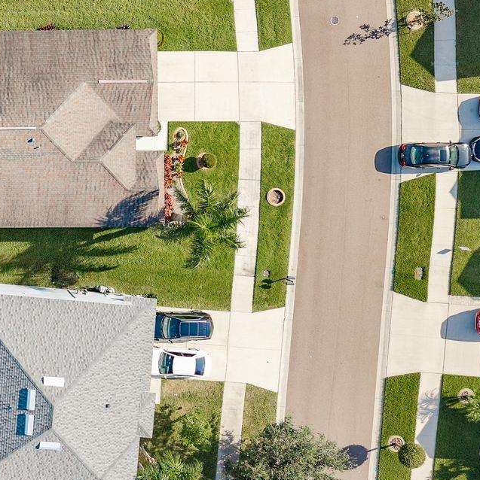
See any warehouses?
No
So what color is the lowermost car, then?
white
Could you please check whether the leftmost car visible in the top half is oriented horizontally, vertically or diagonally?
horizontally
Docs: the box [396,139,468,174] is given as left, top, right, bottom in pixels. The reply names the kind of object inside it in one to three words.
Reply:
car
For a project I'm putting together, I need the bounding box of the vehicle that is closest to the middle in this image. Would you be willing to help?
[153,309,216,345]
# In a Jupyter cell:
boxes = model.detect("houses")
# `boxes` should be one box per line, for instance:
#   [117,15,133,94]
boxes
[0,281,158,480]
[0,29,166,228]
